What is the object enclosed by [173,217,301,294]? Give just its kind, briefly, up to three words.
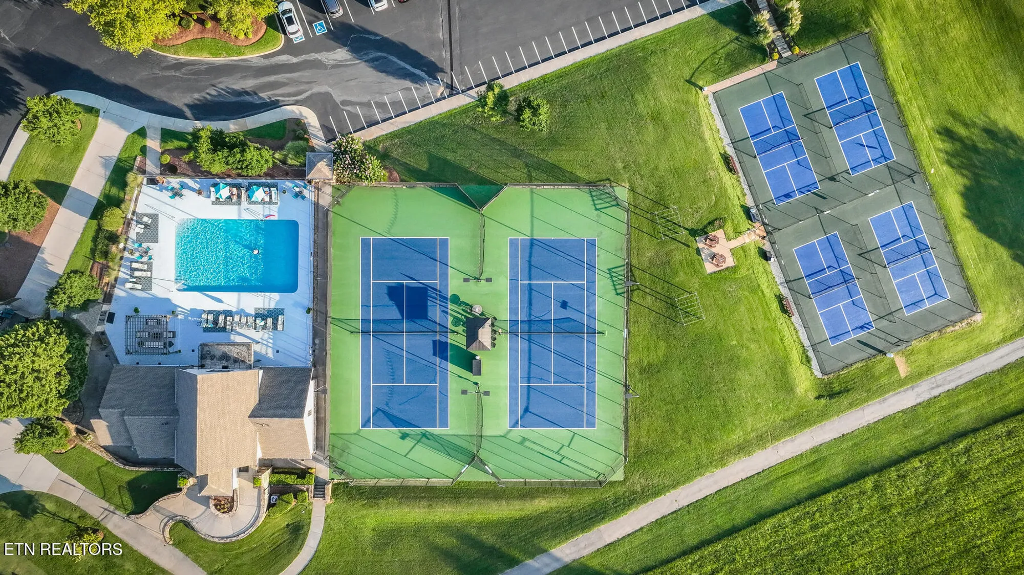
swimming pool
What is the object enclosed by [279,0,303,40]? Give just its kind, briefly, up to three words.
car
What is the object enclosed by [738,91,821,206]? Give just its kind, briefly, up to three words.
sports court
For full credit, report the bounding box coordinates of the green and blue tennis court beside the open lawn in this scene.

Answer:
[479,186,627,480]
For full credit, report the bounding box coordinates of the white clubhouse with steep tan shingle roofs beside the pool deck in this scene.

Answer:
[90,364,319,497]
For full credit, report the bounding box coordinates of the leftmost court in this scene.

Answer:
[330,185,479,480]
